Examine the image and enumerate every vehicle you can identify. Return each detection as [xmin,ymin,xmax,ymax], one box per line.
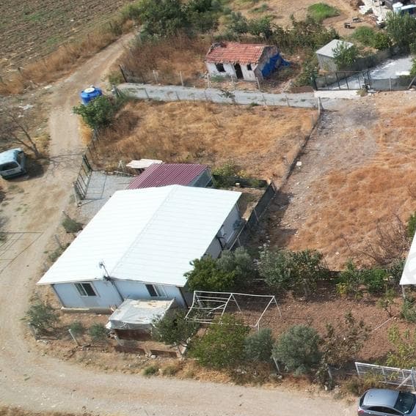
[352,391,416,416]
[0,151,28,176]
